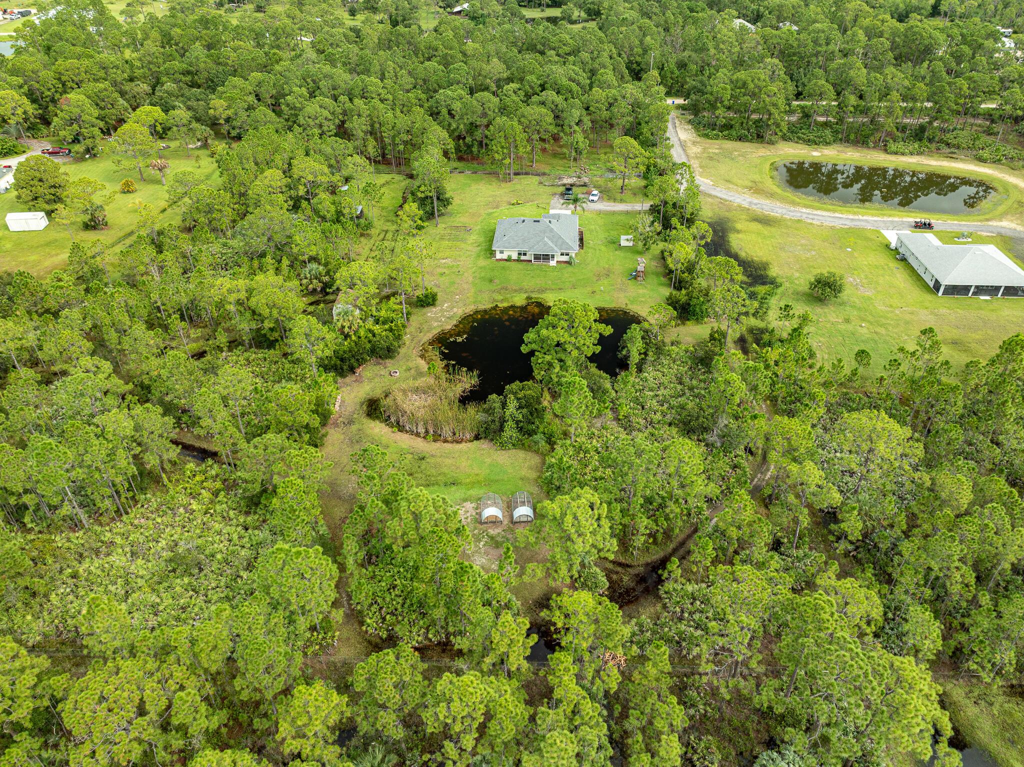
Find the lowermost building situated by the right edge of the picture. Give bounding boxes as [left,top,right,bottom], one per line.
[895,232,1024,305]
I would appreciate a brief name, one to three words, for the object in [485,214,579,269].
house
